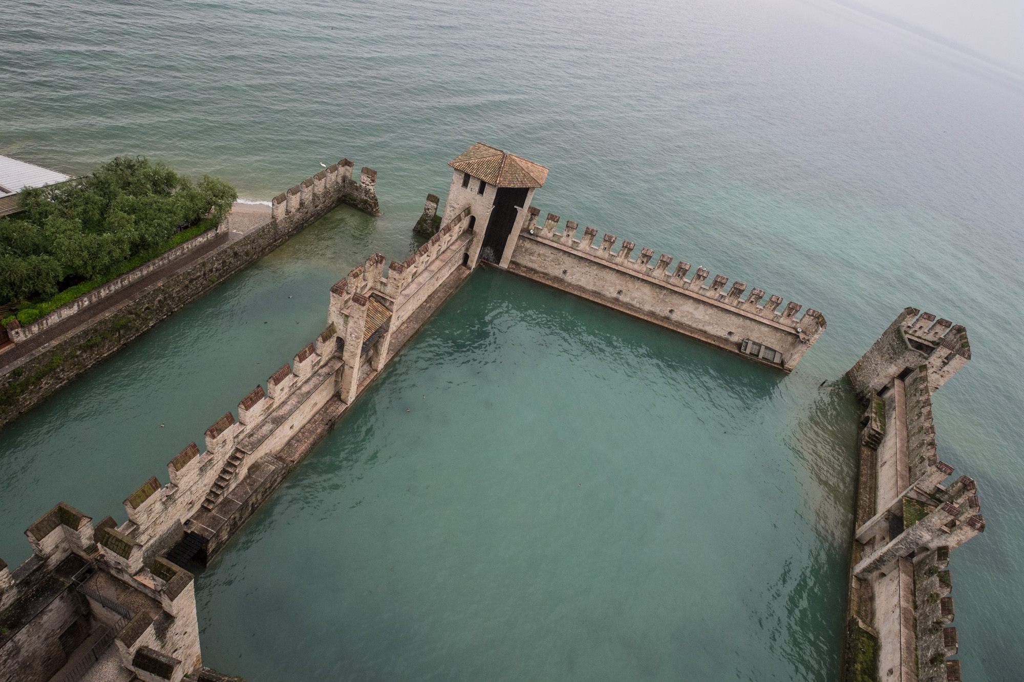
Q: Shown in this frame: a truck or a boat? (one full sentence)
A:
There is a boat in the scene.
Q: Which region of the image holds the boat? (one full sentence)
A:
The boat is in the right part of the image.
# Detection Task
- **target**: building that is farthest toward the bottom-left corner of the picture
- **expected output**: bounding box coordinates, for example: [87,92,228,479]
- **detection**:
[0,503,233,682]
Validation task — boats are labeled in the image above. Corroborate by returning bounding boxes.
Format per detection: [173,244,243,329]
[737,338,782,363]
